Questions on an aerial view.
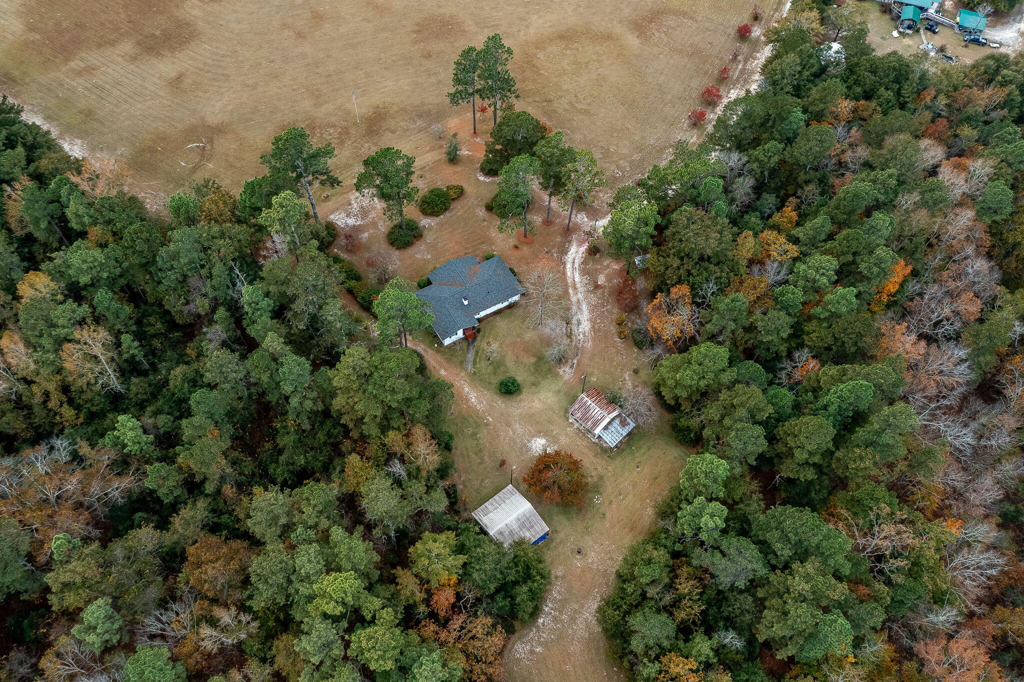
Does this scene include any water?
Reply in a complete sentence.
No, there is no water in the image.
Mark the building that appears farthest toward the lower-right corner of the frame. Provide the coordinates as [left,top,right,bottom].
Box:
[568,388,635,453]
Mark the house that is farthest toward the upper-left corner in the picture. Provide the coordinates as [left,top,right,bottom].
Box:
[427,255,526,346]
